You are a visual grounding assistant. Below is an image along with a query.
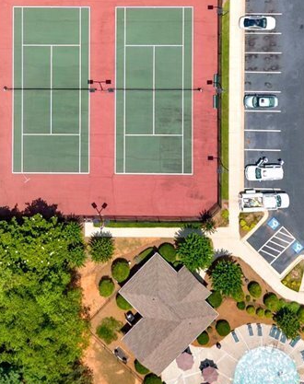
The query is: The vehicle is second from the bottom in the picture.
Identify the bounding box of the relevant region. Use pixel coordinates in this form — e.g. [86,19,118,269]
[246,160,284,181]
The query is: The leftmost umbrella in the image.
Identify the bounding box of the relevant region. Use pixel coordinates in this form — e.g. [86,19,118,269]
[176,353,193,370]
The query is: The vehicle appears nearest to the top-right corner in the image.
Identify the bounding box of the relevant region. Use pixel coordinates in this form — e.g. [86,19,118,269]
[239,15,275,31]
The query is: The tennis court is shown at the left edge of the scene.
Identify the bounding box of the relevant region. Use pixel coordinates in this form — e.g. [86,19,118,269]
[0,0,102,219]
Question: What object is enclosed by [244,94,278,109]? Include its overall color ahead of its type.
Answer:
white car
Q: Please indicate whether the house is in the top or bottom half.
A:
bottom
